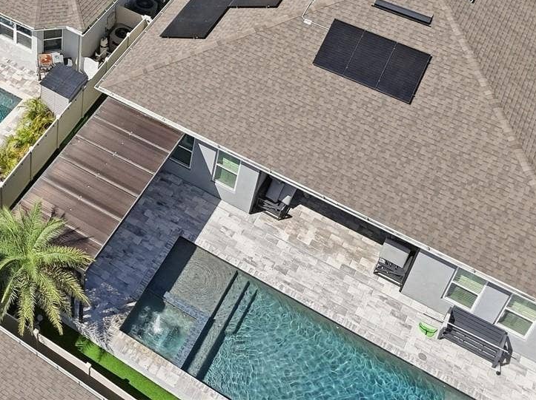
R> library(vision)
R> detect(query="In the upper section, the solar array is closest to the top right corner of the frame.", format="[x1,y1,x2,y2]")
[311,20,431,104]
